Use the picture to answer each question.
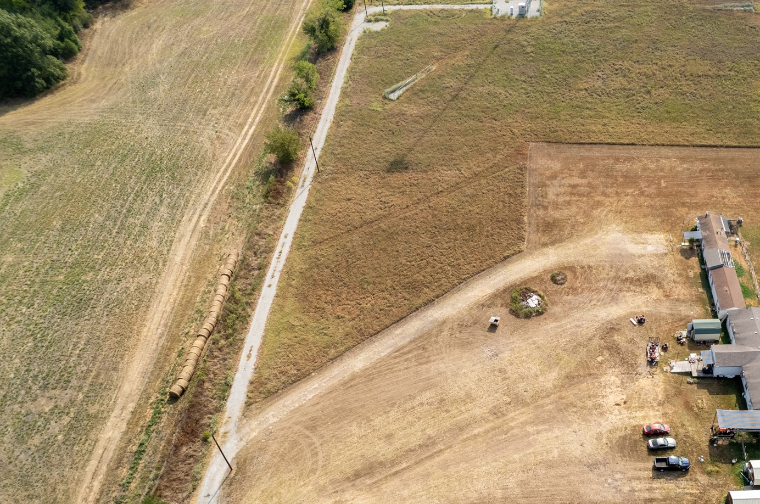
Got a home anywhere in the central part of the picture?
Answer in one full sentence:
No, I can find no home in the central part of the picture.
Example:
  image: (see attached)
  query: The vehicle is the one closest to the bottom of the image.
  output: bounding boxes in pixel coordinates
[653,459,691,474]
